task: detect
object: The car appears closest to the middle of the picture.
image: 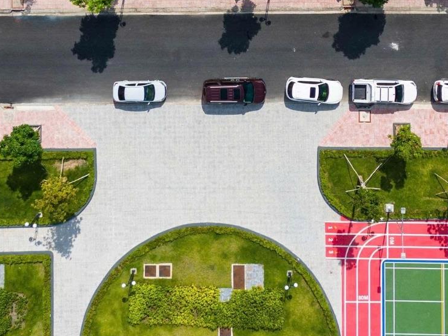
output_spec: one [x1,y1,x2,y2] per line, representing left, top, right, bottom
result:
[202,76,265,108]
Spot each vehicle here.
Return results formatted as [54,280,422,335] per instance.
[432,79,448,104]
[113,79,167,106]
[202,76,265,108]
[349,79,416,108]
[284,76,341,107]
